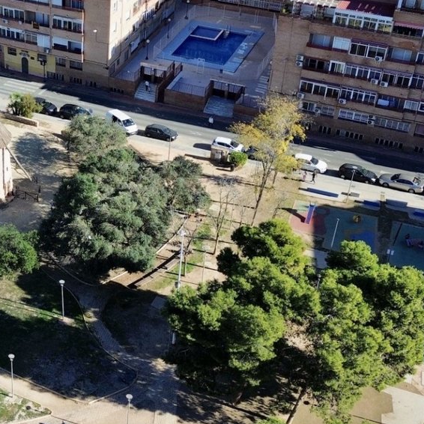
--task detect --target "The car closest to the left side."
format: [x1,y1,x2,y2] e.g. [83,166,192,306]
[35,100,59,115]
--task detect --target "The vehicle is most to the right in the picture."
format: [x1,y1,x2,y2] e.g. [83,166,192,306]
[384,177,424,194]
